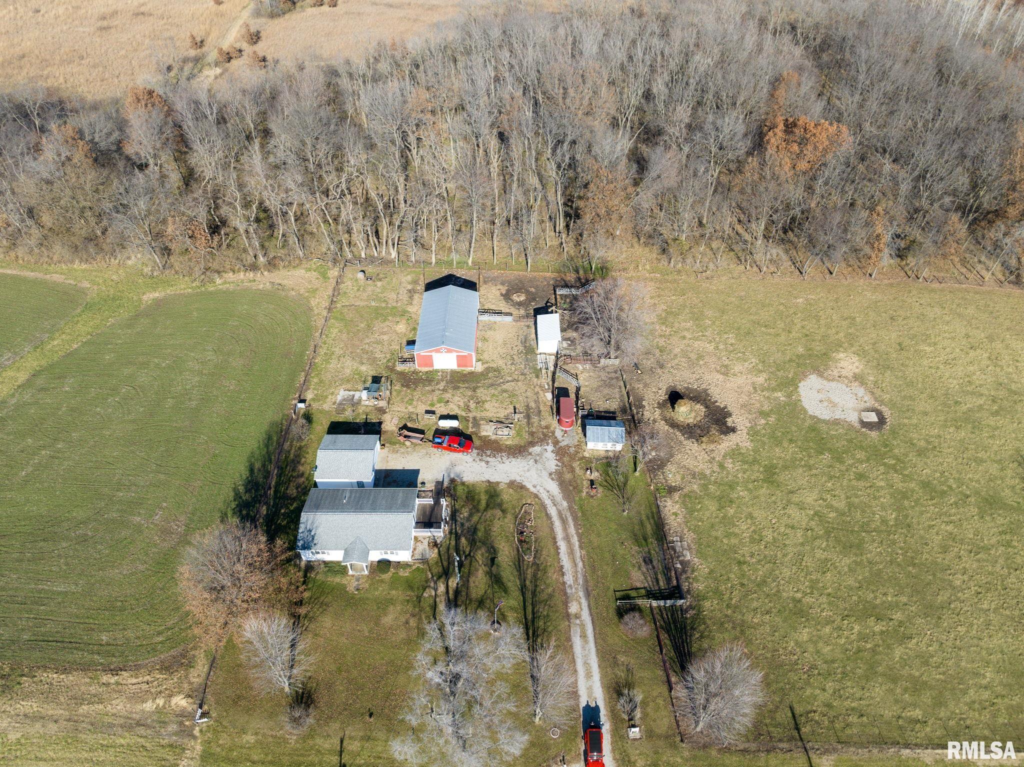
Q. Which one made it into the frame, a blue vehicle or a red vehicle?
red vehicle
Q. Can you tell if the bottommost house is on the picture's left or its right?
left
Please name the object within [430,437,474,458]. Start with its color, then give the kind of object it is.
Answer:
red truck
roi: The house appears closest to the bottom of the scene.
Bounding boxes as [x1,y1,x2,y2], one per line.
[295,488,418,575]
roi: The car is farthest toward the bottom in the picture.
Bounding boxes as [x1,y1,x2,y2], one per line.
[584,730,606,767]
